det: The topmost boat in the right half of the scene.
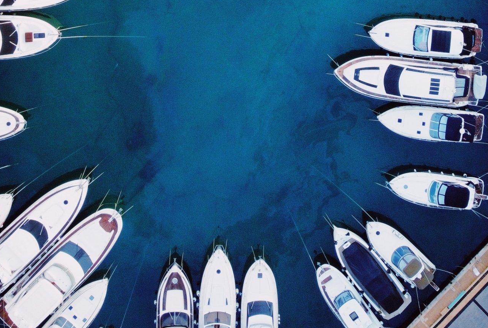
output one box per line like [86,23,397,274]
[365,15,483,59]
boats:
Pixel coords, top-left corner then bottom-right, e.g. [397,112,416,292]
[197,242,237,328]
[42,275,110,328]
[373,103,485,147]
[314,263,383,328]
[364,219,434,291]
[156,260,194,328]
[385,168,488,211]
[241,255,280,328]
[330,55,479,109]
[0,174,93,295]
[475,65,488,106]
[365,15,483,59]
[331,226,411,323]
[0,191,16,233]
[0,12,65,58]
[0,208,123,328]
[0,106,30,140]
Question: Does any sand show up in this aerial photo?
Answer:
No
